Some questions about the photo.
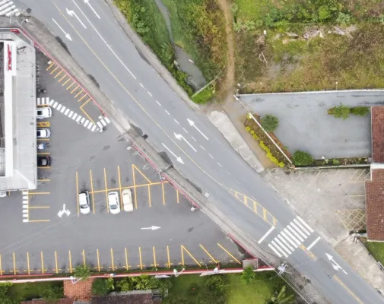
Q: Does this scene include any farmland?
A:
No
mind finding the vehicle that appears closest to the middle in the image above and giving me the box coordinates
[122,189,135,211]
